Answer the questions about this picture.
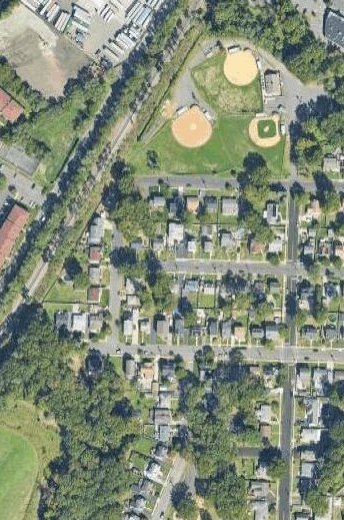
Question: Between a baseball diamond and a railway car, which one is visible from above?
baseball diamond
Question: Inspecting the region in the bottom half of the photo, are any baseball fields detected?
No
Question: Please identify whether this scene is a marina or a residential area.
residential area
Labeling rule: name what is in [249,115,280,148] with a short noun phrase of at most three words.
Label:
baseball field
